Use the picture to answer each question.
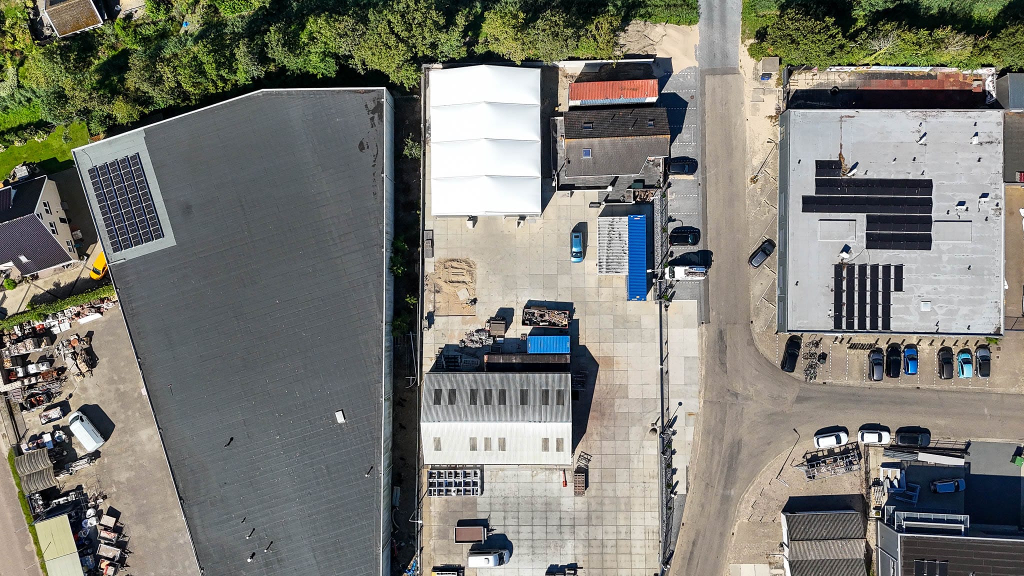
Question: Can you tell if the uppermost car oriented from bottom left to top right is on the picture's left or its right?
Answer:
right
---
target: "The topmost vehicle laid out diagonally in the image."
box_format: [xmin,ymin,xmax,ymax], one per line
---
[746,238,776,269]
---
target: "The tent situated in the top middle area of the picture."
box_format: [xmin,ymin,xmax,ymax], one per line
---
[430,64,541,220]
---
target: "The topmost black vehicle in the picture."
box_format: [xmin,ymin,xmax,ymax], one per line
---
[667,159,697,175]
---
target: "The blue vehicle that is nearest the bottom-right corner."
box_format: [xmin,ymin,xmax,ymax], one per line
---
[929,477,963,494]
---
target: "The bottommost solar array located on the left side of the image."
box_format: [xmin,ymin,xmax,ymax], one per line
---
[89,153,161,253]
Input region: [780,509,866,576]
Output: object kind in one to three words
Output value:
building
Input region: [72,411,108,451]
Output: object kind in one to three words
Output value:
van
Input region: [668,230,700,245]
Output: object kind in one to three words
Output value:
car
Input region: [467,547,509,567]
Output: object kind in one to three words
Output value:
vehicle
